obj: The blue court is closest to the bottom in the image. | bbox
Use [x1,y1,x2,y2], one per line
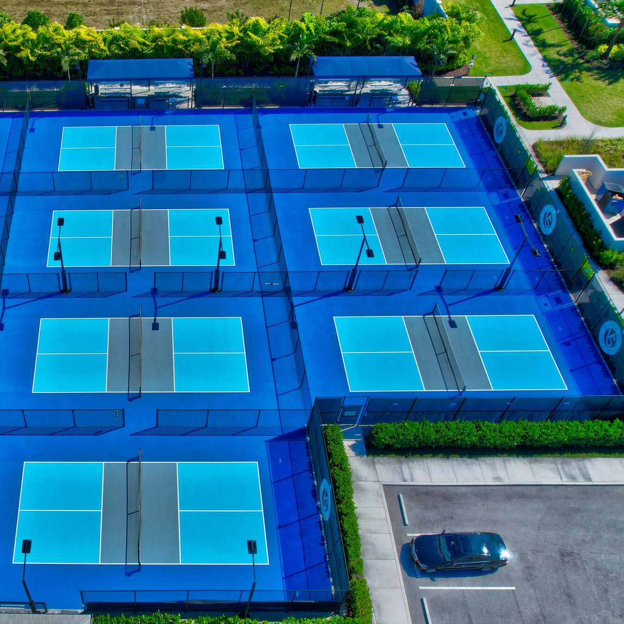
[0,426,333,605]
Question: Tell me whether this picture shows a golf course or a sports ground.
sports ground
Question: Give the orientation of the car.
horizontally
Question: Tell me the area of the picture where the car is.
bottom right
